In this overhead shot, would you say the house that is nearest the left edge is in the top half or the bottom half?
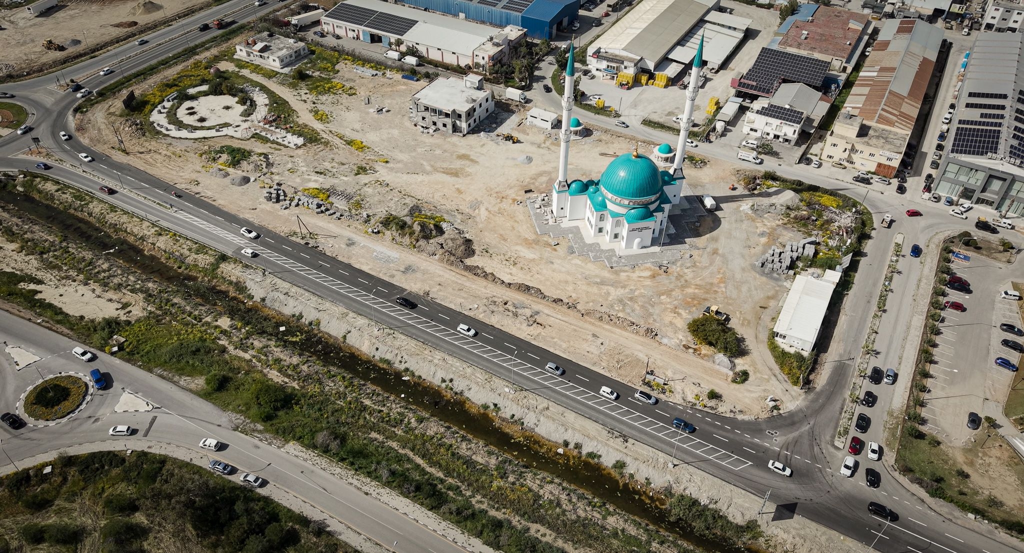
top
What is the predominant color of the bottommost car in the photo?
black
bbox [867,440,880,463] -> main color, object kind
white vehicle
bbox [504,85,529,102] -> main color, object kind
white vehicle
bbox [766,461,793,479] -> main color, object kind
white car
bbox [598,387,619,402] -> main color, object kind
white car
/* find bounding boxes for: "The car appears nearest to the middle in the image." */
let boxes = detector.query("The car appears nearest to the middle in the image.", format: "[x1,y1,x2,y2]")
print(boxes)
[457,324,476,338]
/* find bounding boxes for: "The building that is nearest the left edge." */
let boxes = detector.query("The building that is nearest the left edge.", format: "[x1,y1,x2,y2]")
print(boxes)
[230,32,315,71]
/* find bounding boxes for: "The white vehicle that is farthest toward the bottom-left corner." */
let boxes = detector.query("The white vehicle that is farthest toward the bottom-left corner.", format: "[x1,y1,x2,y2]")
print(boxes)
[108,425,133,438]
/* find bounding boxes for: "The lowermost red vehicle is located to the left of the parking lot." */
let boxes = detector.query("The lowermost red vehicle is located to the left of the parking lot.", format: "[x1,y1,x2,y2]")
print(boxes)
[848,436,861,456]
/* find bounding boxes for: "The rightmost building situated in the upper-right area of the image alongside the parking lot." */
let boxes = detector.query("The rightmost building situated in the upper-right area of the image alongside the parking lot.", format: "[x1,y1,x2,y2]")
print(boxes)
[933,36,1024,221]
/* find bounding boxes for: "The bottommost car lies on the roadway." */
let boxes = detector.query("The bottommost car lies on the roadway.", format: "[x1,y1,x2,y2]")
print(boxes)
[868,501,898,523]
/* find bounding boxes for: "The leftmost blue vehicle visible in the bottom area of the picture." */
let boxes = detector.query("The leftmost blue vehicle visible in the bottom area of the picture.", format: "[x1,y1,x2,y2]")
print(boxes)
[90,368,106,390]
